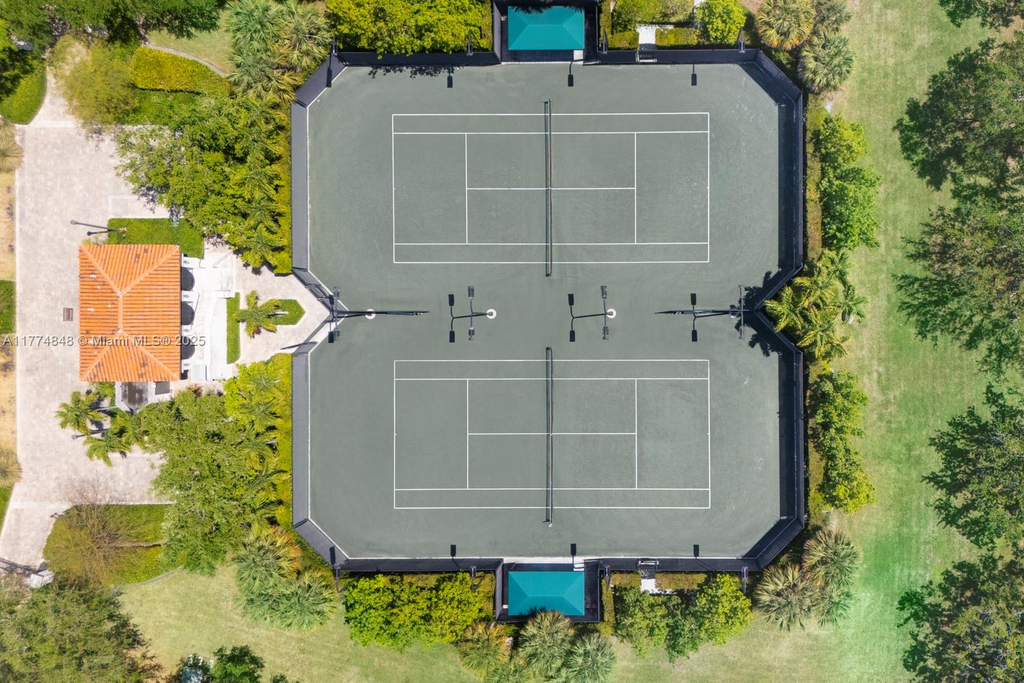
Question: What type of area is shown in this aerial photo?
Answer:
sports ground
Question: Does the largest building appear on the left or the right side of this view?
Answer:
left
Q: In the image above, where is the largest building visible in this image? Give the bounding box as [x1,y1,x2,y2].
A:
[76,243,198,415]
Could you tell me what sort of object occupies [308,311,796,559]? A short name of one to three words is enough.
tennis court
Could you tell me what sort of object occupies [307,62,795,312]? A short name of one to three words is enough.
tennis court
